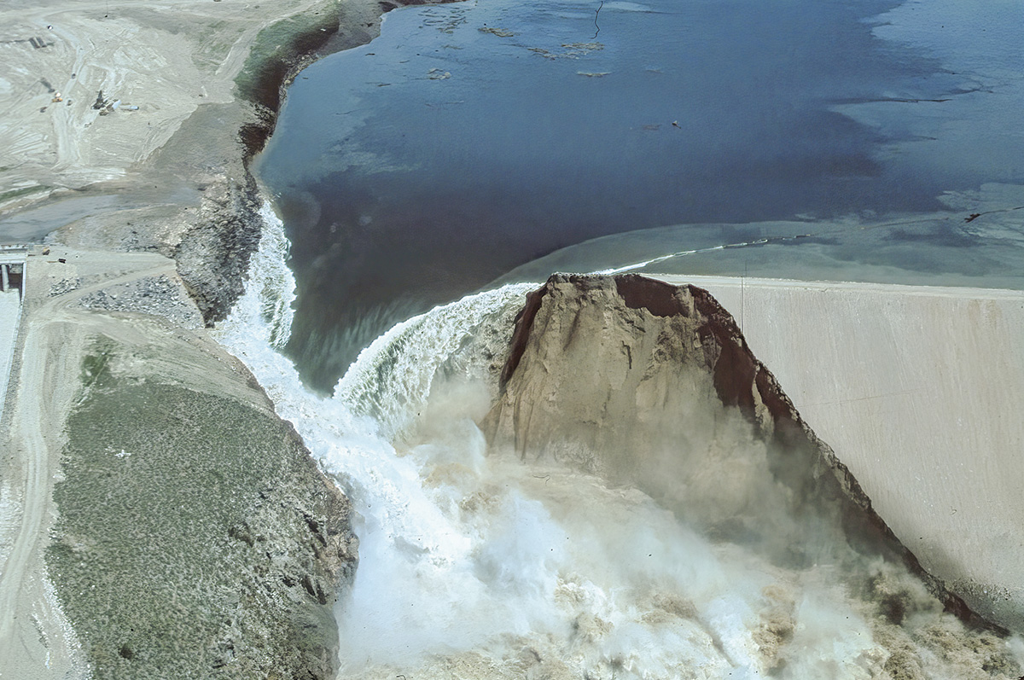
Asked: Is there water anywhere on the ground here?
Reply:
Yes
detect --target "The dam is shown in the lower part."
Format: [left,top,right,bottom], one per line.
[483,269,1024,647]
